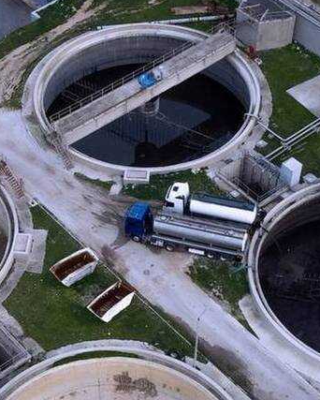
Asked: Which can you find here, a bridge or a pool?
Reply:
bridge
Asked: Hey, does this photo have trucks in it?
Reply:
Yes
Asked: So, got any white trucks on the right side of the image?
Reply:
Yes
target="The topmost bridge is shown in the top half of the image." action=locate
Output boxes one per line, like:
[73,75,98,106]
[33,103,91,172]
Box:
[37,23,243,149]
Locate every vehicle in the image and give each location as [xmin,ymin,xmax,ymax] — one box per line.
[121,203,245,261]
[160,186,257,236]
